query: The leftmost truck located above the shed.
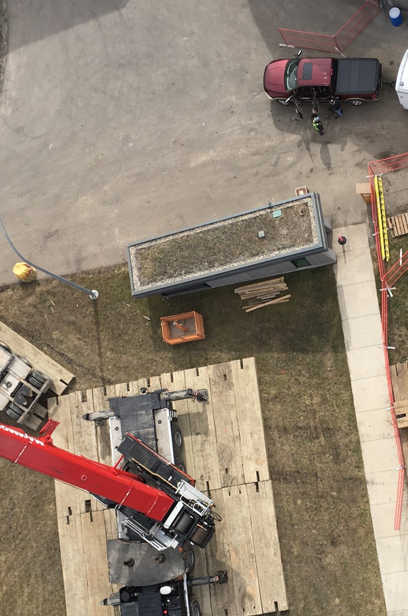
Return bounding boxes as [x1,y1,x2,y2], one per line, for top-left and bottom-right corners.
[265,44,385,118]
